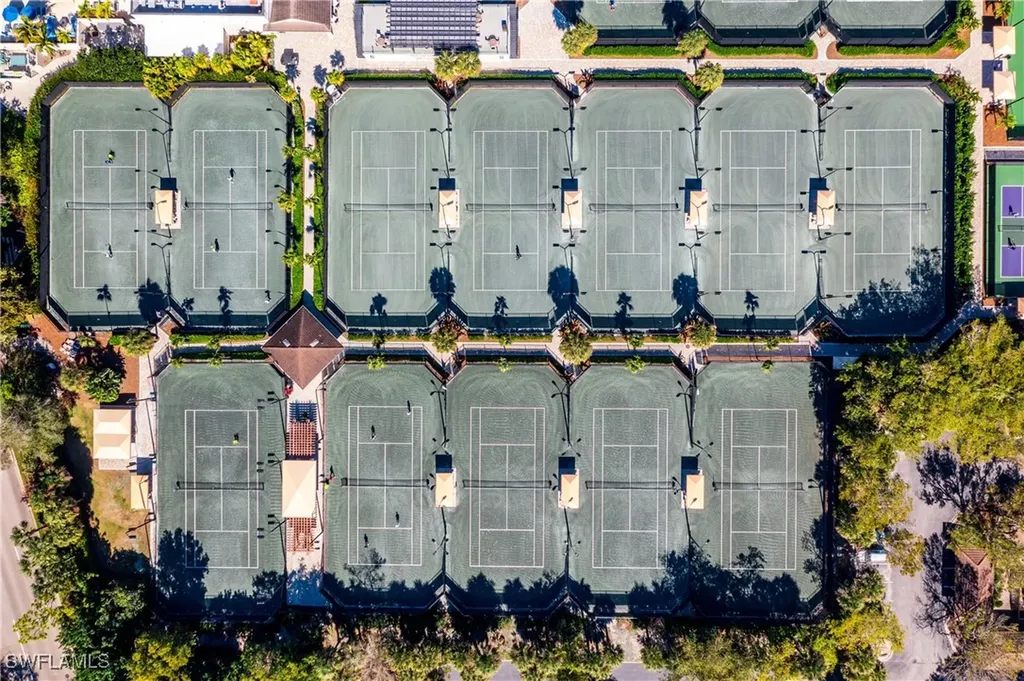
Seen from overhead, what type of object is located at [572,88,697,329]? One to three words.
tennis court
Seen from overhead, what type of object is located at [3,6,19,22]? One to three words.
umbrella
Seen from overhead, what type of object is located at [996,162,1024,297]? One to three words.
sports court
